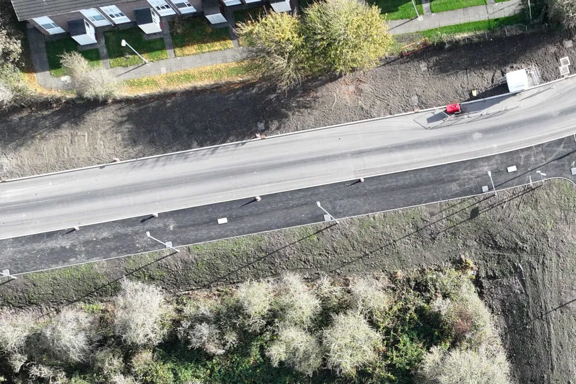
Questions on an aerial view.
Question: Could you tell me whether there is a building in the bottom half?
No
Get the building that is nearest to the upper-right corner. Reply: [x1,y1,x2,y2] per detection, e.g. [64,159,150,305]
[496,68,538,101]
